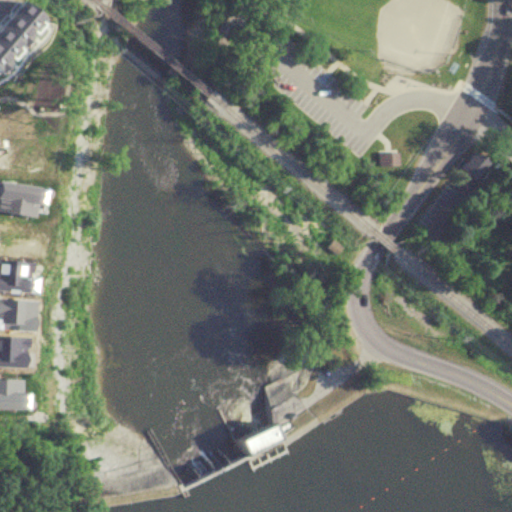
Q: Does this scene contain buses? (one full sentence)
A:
No, the picture doesn't show any bus.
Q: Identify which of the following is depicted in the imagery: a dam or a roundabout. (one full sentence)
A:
The one in the frame is a dam.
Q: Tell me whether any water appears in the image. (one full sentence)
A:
Yes, water can be seen from above here.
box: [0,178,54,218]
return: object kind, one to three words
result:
house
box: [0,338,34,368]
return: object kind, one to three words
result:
house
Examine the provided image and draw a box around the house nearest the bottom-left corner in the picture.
[0,380,46,424]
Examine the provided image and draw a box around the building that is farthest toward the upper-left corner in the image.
[0,0,52,86]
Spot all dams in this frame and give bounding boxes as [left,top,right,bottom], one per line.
[97,428,252,506]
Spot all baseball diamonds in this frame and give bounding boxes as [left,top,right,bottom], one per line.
[377,0,463,76]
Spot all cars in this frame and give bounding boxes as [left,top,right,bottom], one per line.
[280,84,295,91]
[360,294,367,308]
[318,90,332,97]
